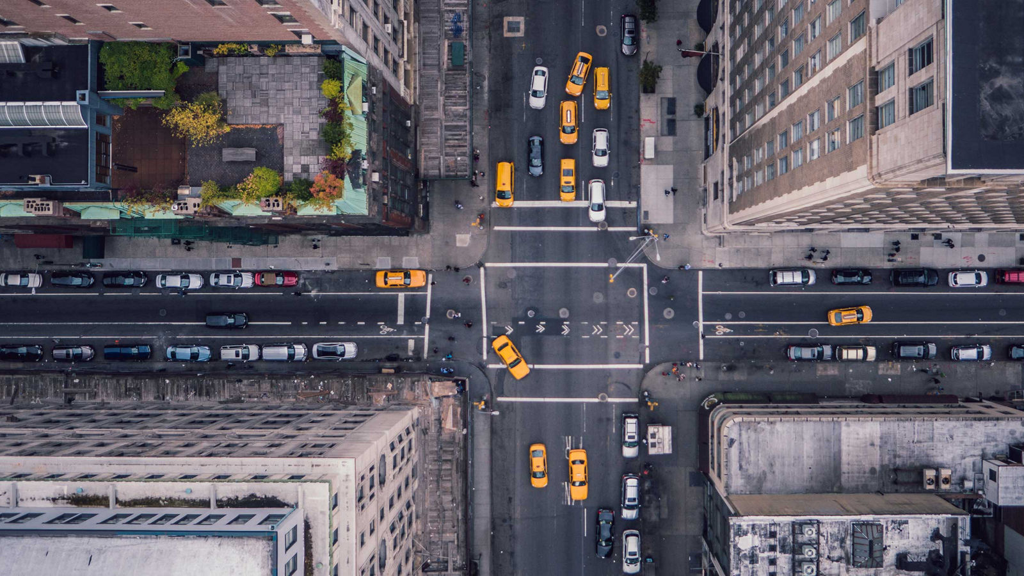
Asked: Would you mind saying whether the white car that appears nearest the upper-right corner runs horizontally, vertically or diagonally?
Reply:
horizontally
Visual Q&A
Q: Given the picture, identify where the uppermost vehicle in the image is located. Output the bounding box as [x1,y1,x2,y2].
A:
[619,14,639,57]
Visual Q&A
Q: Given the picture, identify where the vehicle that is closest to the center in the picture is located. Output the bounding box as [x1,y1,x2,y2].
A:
[493,333,529,381]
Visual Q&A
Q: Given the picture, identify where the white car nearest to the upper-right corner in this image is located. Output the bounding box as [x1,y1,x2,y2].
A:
[946,269,987,289]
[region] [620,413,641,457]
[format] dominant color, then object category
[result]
white car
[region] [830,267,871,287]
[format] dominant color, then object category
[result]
black car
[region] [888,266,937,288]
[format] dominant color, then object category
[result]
black car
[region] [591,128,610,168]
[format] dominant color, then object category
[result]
white car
